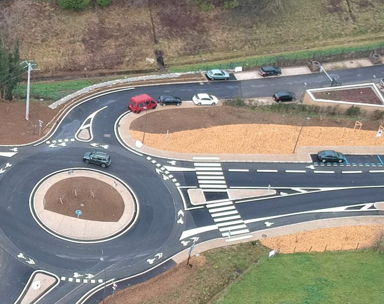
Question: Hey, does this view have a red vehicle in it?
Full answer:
Yes, the picture does show a red vehicle.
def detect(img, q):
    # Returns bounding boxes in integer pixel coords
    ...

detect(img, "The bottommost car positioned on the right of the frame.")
[316,148,348,162]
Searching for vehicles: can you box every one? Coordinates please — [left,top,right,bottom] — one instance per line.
[272,90,298,101]
[191,92,220,104]
[129,95,158,113]
[83,150,111,166]
[158,92,183,104]
[203,68,232,80]
[377,77,384,87]
[316,148,348,162]
[257,62,284,77]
